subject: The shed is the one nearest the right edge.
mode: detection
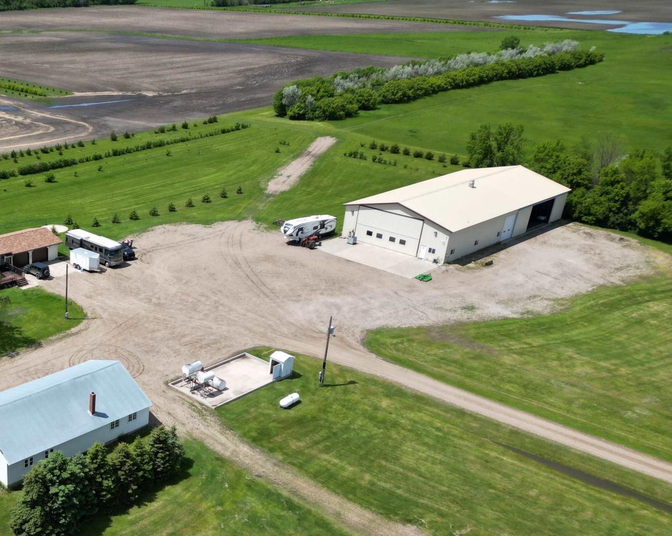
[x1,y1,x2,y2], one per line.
[341,165,565,265]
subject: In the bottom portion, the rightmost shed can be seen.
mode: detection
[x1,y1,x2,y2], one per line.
[272,352,296,380]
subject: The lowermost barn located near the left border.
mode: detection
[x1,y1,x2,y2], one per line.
[0,359,154,487]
